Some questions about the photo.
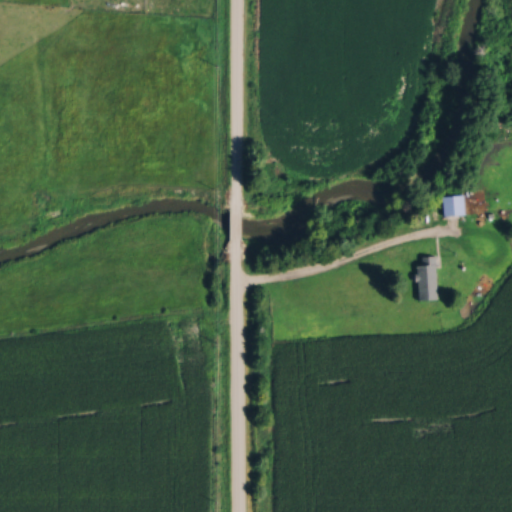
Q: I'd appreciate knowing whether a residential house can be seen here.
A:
Yes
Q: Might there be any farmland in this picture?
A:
Yes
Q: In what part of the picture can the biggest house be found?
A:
right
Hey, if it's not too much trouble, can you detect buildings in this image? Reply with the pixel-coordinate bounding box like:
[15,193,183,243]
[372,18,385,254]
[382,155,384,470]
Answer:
[444,195,466,218]
[416,256,440,301]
